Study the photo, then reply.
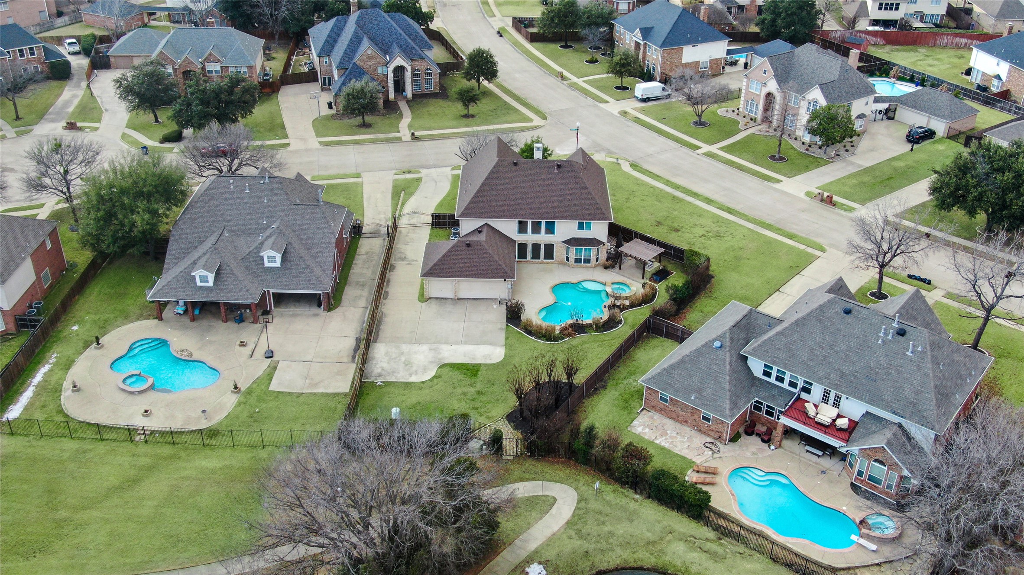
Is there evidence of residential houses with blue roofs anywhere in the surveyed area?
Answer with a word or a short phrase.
Yes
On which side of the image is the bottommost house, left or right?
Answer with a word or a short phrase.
right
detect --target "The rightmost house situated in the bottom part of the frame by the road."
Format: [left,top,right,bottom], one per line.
[637,277,987,500]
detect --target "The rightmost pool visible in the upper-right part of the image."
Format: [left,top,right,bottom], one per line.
[869,79,923,95]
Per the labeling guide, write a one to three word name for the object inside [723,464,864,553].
swimming pool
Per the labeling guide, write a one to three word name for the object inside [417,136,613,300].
house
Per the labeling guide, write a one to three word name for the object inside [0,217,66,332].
house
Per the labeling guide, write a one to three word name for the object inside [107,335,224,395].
swimming pool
